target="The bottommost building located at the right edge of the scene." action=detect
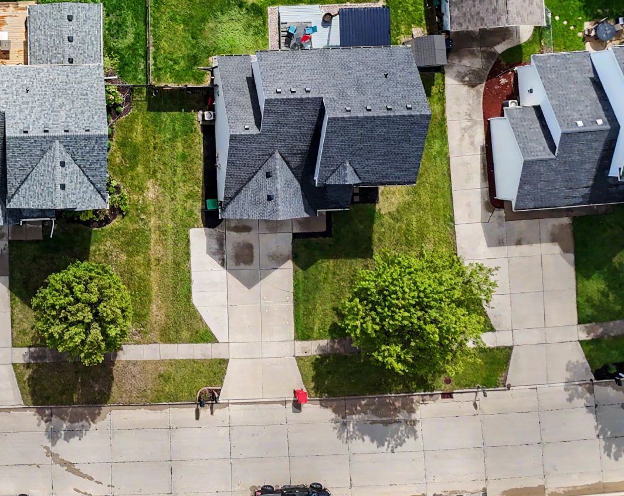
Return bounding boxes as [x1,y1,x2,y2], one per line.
[488,46,624,213]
